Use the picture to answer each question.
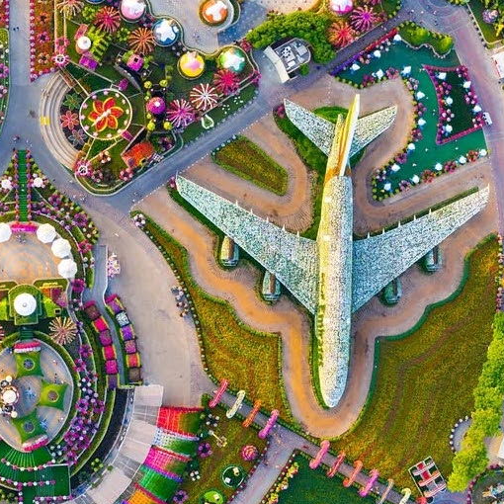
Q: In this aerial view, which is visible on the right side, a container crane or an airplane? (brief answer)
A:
airplane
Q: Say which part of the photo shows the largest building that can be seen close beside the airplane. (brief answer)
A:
top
